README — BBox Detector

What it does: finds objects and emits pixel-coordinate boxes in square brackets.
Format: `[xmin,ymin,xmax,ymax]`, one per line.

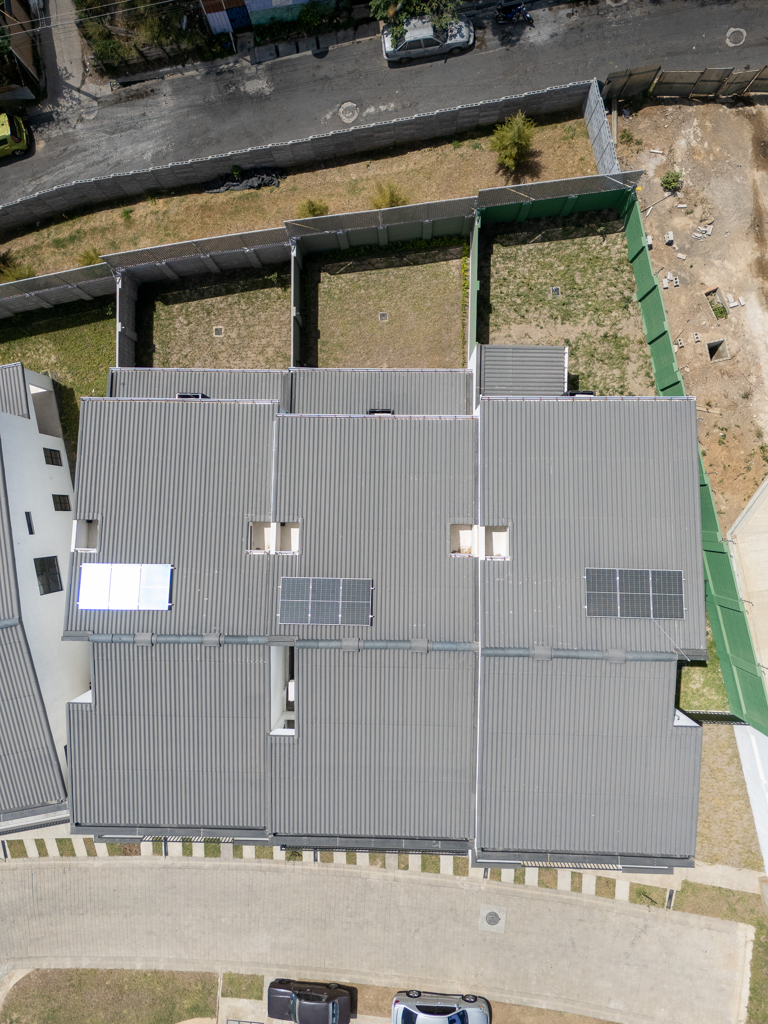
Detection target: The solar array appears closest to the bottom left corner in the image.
[75,563,176,611]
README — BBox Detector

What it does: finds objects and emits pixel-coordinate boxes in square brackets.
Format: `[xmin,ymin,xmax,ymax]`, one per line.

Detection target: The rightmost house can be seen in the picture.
[468,343,712,866]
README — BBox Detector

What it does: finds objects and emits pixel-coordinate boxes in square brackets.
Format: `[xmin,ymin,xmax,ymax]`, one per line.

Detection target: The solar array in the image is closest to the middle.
[275,577,376,626]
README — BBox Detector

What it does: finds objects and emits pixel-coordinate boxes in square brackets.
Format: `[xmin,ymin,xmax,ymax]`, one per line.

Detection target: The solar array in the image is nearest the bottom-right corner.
[580,567,690,620]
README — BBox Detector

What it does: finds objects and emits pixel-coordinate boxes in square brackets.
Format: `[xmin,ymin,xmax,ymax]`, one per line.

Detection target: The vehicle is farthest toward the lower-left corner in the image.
[263,983,349,1024]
